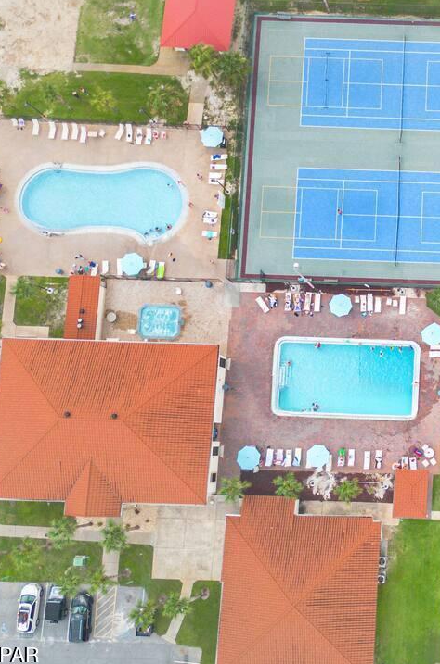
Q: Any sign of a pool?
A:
Yes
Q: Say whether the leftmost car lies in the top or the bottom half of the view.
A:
bottom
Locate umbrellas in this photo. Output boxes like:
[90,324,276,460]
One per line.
[202,124,225,146]
[236,444,260,469]
[306,444,330,468]
[329,293,352,315]
[420,321,440,344]
[120,252,143,276]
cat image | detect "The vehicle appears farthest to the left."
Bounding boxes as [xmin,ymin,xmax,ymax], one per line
[15,582,46,635]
